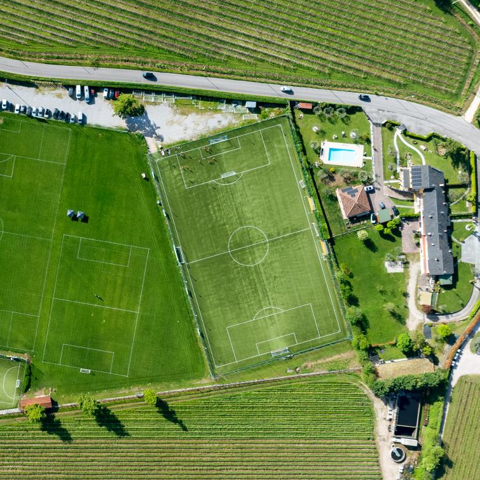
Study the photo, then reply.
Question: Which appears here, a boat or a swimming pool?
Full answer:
It is a swimming pool that can be seen here.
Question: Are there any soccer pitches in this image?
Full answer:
Yes, a soccer pitch is visible in the scene.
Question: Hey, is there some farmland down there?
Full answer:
Yes, farmland shows up in the scene.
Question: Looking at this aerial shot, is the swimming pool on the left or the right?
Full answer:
The swimming pool is on the right side of the image.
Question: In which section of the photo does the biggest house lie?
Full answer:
The biggest house appears toward the right of the photo.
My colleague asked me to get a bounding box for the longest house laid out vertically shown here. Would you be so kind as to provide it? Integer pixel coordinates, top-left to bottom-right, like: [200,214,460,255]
[399,166,454,285]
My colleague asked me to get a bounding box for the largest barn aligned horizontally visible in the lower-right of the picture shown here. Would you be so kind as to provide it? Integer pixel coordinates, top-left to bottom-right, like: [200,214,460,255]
[373,359,434,376]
